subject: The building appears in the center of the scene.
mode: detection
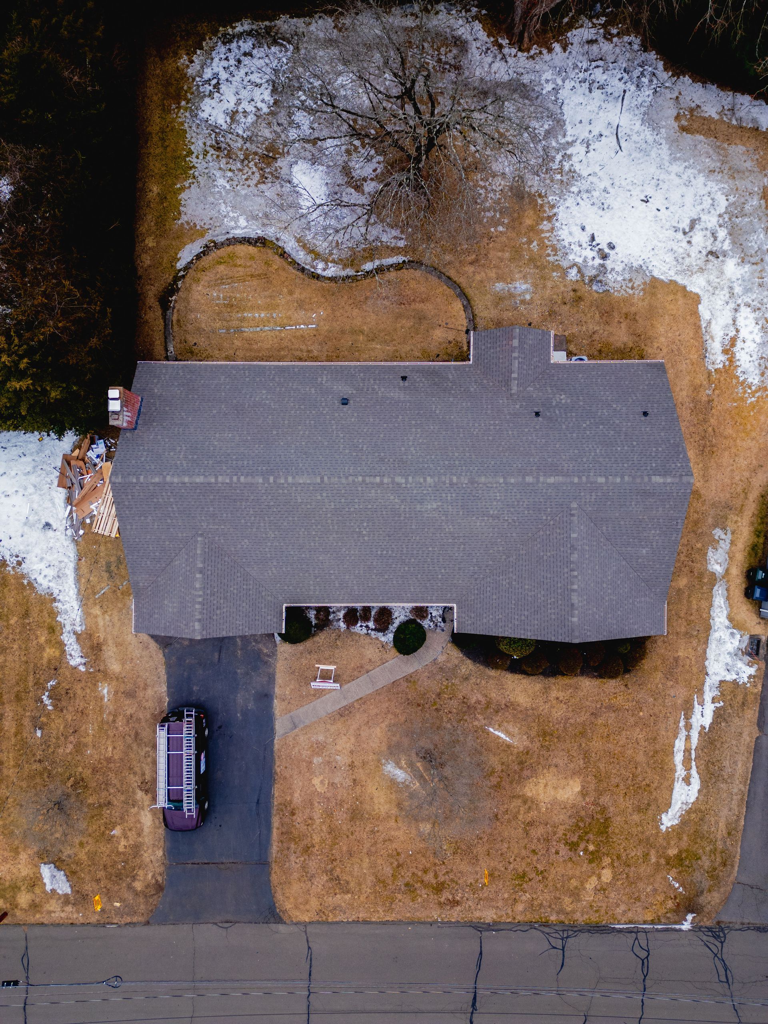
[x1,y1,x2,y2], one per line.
[107,325,695,643]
